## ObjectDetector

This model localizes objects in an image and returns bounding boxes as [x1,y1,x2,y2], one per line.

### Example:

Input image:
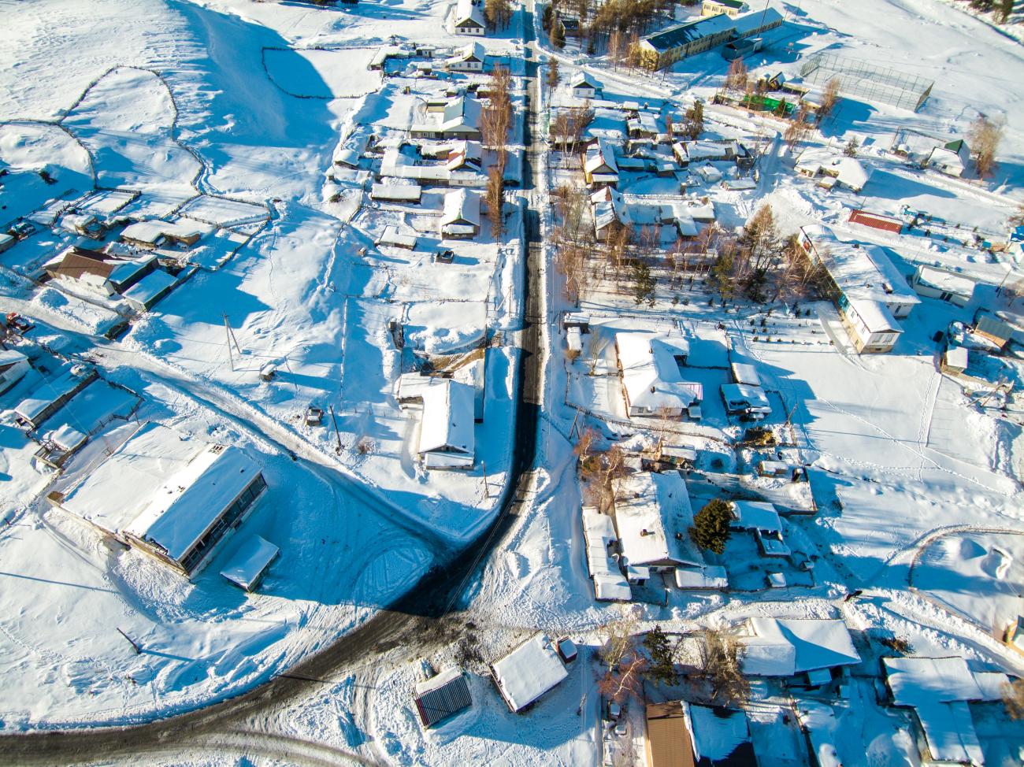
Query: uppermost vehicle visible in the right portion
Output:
[927,329,949,341]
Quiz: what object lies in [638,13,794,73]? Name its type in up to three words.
building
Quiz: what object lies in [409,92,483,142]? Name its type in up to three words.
house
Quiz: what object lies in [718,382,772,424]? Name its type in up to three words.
shed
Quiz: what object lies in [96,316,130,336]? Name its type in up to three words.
vehicle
